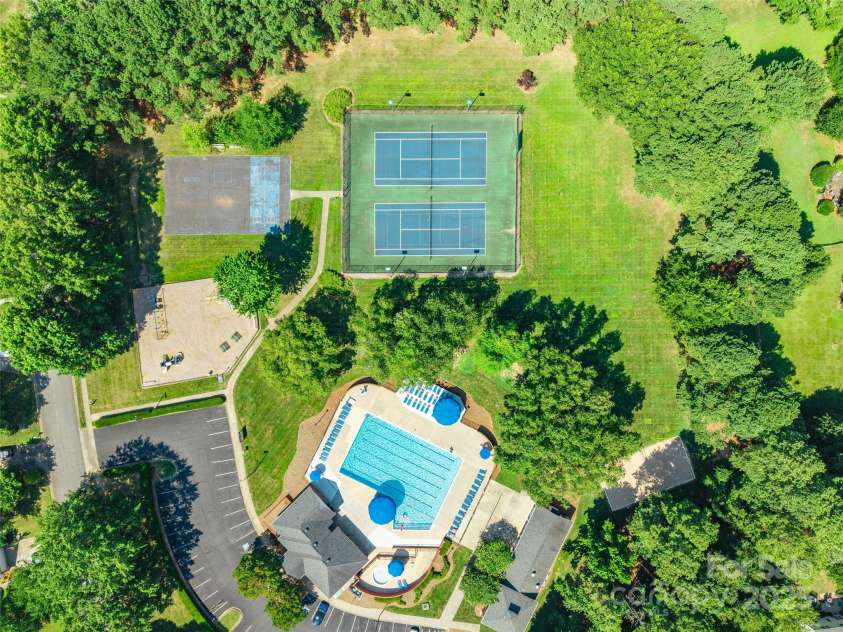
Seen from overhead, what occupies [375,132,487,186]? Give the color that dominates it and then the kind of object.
blue tennis court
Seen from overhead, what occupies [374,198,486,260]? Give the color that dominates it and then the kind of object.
blue tennis court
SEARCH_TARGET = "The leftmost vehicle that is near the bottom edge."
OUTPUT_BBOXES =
[312,602,328,626]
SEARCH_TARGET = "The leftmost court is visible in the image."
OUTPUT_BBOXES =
[165,155,291,235]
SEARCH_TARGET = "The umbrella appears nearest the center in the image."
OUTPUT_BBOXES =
[432,396,461,425]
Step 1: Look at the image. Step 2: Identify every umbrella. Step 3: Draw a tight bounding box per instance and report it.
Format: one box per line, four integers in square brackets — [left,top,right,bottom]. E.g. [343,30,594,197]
[432,396,461,425]
[368,495,396,523]
[310,469,321,480]
[388,559,404,575]
[479,447,491,458]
